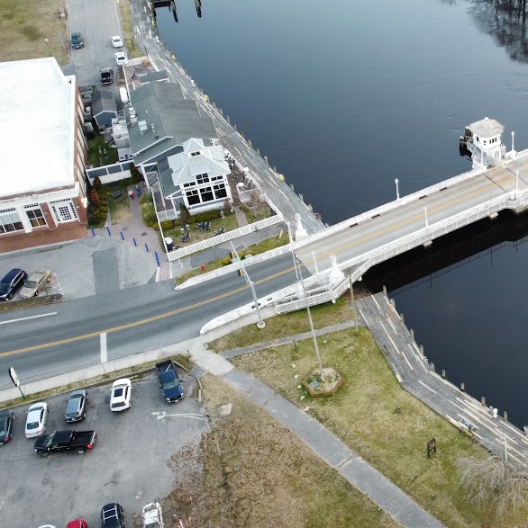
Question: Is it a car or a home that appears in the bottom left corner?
car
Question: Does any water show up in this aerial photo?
Yes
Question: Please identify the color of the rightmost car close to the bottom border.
white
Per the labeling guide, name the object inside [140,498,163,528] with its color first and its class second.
white car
